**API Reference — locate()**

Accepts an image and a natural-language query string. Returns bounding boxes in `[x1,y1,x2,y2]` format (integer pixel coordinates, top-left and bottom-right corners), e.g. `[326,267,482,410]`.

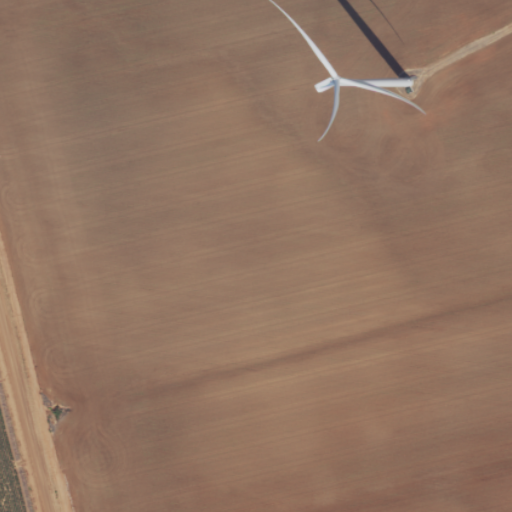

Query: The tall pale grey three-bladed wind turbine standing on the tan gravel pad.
[270,0,426,140]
